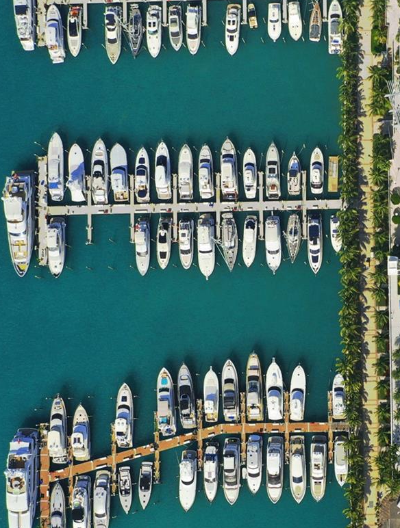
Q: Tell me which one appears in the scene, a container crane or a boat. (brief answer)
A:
boat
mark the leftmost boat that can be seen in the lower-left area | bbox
[5,423,36,528]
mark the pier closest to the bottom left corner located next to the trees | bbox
[41,391,341,528]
